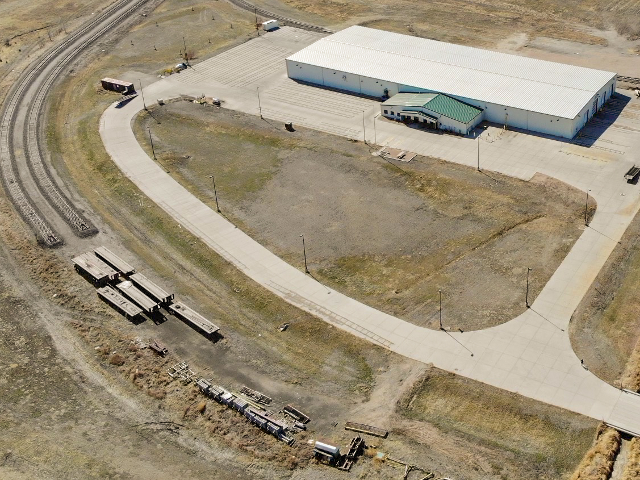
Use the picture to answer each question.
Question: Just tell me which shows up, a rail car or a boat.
rail car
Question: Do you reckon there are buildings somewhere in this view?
Yes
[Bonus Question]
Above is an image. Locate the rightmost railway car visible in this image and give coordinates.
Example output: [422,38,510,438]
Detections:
[169,301,219,335]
